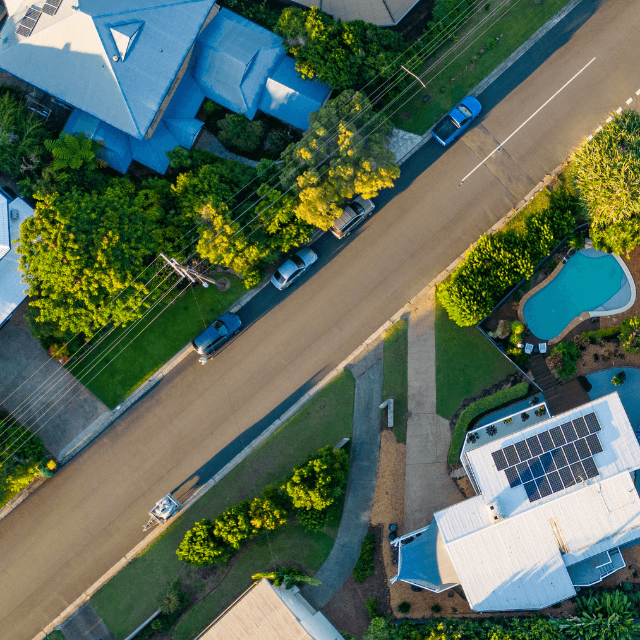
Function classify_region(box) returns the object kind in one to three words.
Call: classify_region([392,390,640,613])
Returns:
house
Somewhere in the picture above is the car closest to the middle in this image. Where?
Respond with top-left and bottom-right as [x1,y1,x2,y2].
[264,242,325,296]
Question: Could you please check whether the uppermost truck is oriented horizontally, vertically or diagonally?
diagonally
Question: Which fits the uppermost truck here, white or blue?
blue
